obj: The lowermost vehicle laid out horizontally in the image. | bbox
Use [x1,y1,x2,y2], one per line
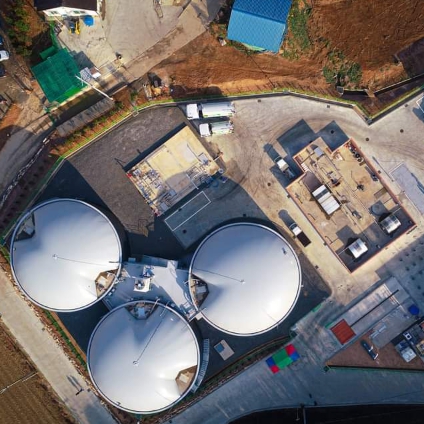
[199,121,235,138]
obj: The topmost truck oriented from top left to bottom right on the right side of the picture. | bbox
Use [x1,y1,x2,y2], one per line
[274,155,299,182]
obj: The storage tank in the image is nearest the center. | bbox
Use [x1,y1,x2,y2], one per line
[187,222,301,334]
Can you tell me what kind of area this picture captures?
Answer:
industrial area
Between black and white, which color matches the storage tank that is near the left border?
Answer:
white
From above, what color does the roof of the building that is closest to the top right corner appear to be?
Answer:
blue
